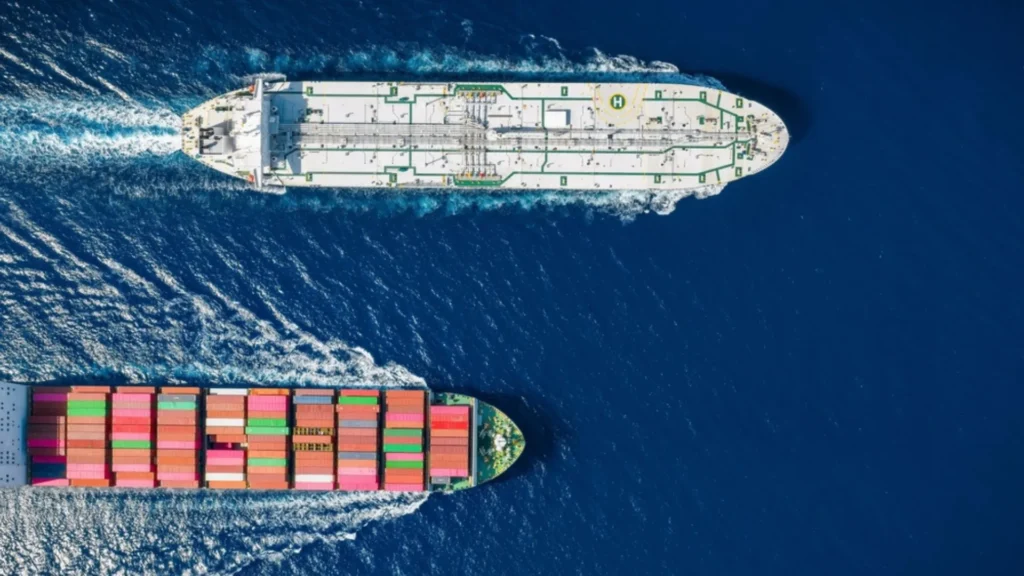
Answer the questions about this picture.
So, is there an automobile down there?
No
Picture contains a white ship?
Yes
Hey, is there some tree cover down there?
No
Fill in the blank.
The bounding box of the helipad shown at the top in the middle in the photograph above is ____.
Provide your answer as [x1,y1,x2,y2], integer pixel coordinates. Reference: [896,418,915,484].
[590,85,647,126]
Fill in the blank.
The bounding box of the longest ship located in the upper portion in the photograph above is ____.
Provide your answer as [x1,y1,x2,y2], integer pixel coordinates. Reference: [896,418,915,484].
[182,75,790,193]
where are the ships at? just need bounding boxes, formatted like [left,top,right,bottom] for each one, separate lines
[182,75,790,193]
[0,380,525,491]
